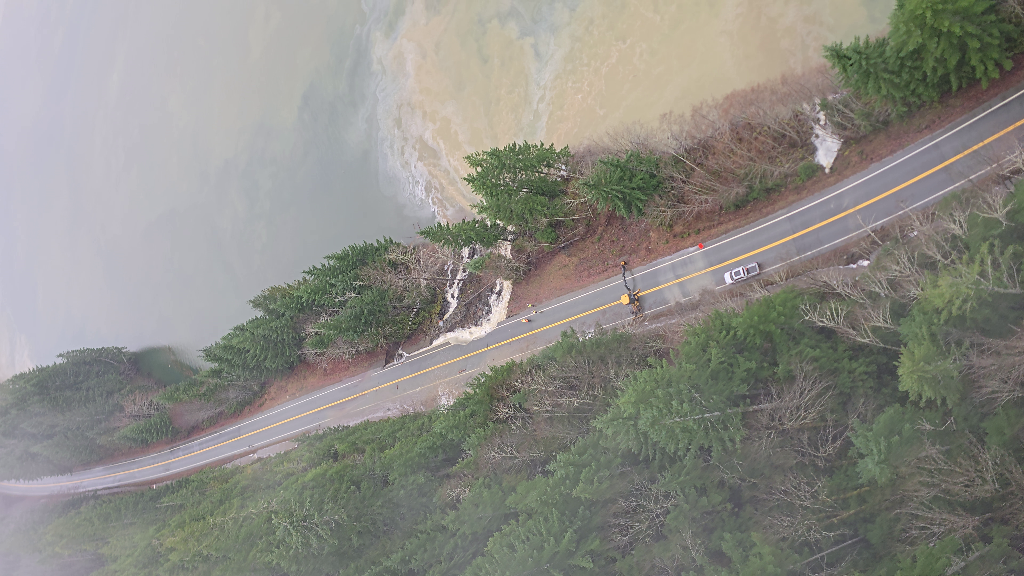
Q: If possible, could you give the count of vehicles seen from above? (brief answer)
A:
2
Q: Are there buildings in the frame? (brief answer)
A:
No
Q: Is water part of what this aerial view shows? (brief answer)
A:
Yes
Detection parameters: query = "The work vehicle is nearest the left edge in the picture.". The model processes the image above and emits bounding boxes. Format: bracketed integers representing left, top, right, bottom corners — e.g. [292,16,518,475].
[620,260,645,321]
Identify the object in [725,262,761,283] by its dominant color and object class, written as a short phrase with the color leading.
white truck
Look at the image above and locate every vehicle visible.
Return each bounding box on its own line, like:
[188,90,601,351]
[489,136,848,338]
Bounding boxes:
[725,262,761,283]
[620,260,645,321]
